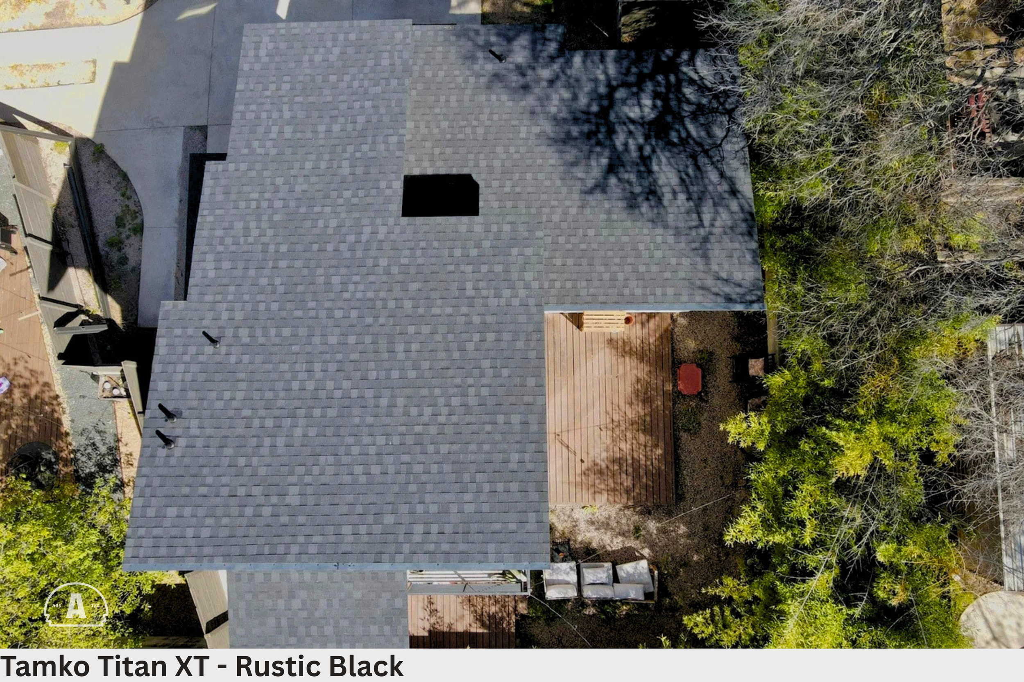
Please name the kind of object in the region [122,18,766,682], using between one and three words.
house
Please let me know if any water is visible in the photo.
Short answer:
No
